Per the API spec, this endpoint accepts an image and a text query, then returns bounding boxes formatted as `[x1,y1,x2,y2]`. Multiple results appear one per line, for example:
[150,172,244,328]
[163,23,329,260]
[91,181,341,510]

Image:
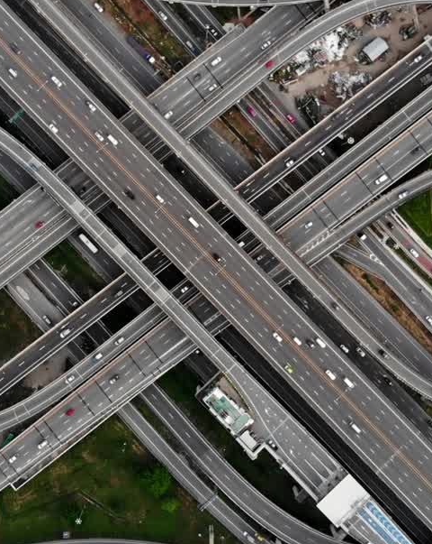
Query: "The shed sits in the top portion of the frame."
[362,36,388,62]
